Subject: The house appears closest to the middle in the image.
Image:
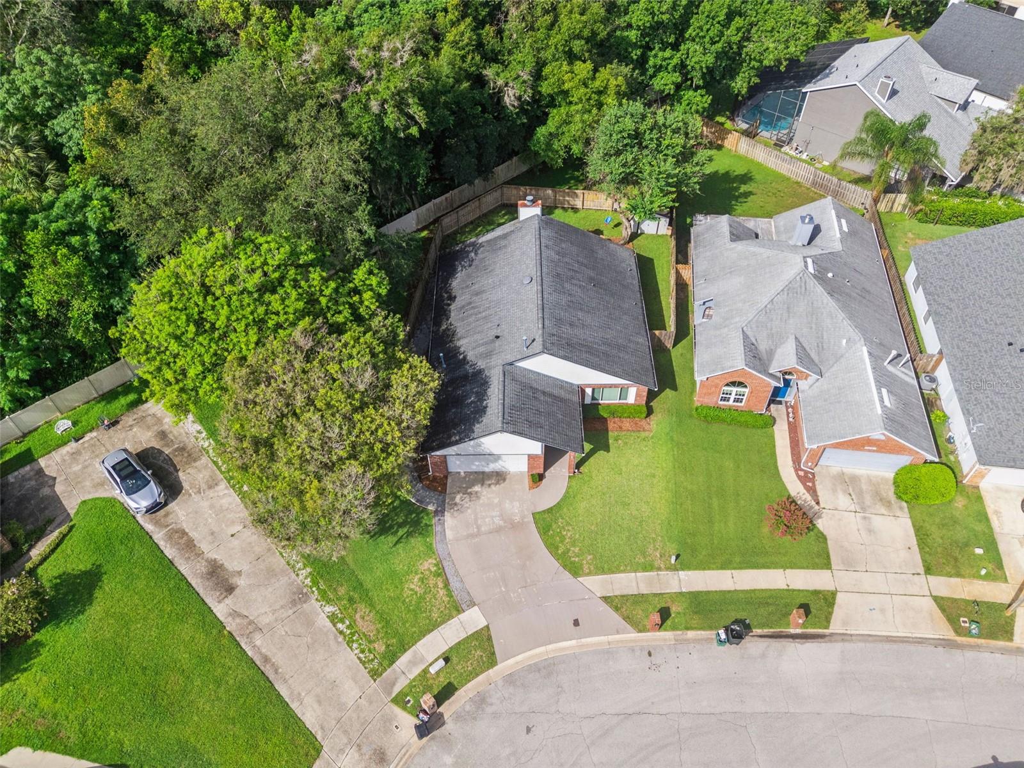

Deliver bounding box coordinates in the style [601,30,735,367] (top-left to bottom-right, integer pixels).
[419,192,659,479]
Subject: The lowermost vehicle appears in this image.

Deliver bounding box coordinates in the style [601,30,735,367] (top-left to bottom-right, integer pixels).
[104,451,165,516]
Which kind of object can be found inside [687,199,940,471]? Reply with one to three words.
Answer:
house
